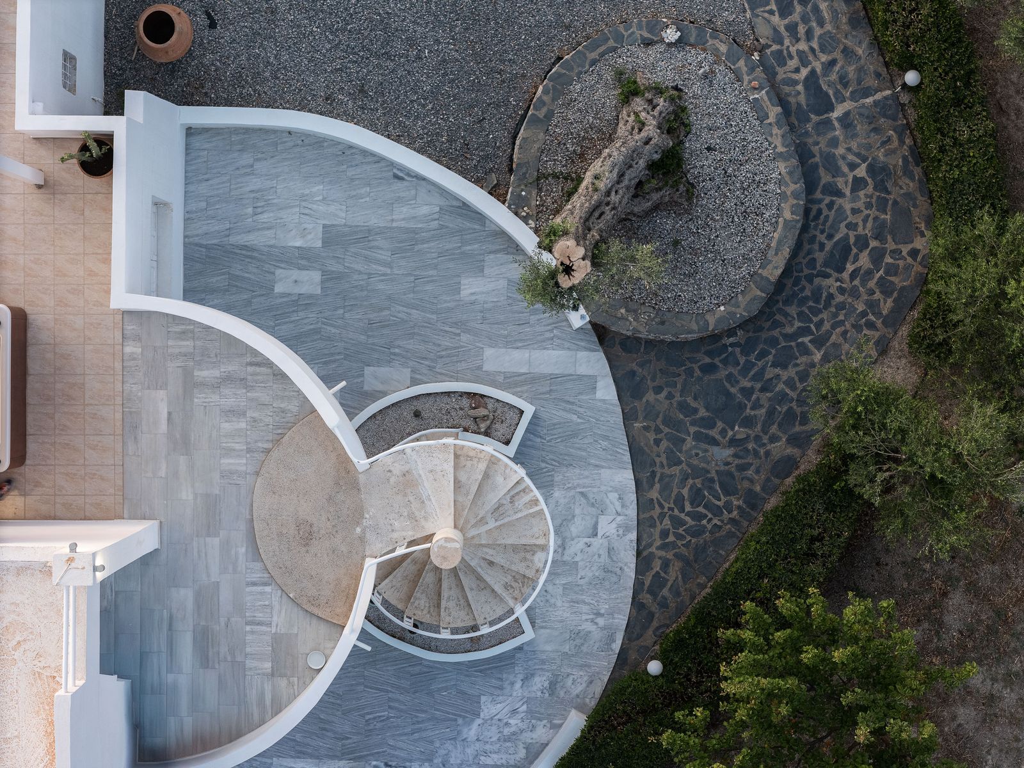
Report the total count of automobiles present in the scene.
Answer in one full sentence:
I count no automobiles.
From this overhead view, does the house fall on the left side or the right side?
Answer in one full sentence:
The house appears in the left half of the scene.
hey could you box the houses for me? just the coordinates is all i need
[0,521,158,768]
